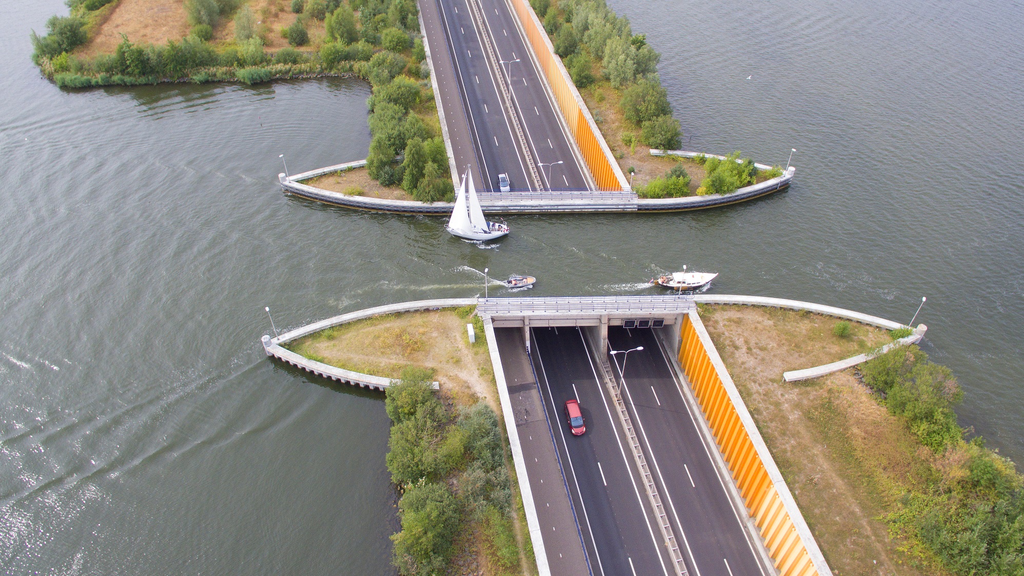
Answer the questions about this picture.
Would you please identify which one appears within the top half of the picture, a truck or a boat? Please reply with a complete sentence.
There is a boat within the top half of the picture.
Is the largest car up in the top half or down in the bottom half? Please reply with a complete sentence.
You can find the largest car in the bottom half.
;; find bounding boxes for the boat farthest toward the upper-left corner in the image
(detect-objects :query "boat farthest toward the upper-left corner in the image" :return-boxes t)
[442,161,516,241]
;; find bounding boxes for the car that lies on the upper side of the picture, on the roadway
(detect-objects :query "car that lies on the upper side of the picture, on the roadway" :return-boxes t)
[497,174,512,191]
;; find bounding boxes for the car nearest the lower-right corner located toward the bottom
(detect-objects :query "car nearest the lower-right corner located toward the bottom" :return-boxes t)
[563,404,587,441]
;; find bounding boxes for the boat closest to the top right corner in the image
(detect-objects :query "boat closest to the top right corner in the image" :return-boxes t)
[649,266,718,289]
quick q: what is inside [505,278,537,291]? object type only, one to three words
boat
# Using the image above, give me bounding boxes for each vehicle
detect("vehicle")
[563,404,587,441]
[497,174,512,191]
